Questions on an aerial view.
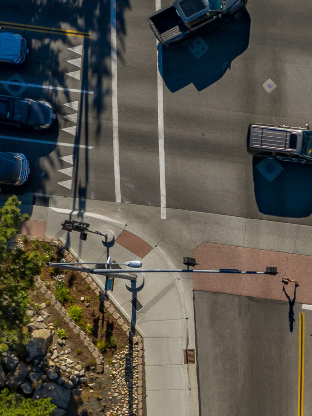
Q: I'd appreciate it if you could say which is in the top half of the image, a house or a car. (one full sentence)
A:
What appears in the top half of the image is a car.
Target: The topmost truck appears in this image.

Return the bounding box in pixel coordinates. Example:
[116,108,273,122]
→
[148,0,251,49]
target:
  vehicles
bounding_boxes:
[0,31,30,67]
[0,90,59,132]
[0,150,33,185]
[148,0,251,49]
[245,122,312,164]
